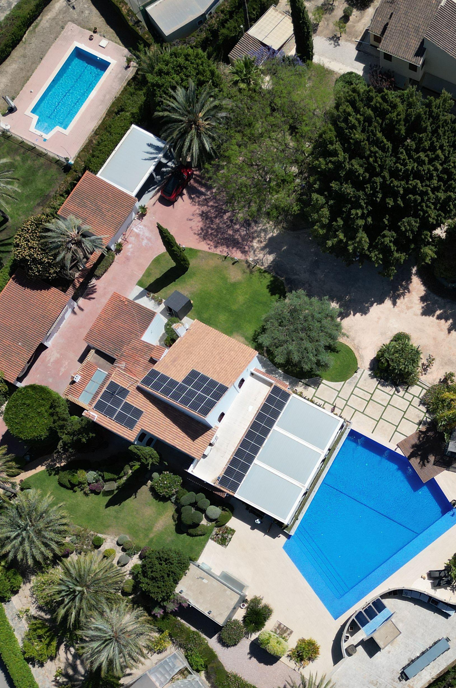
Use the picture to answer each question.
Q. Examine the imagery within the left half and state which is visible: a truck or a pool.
pool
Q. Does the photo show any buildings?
Yes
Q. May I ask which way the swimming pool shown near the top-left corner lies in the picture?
on a diagonal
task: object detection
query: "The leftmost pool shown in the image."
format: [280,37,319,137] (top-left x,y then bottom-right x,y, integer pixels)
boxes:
[31,46,110,134]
